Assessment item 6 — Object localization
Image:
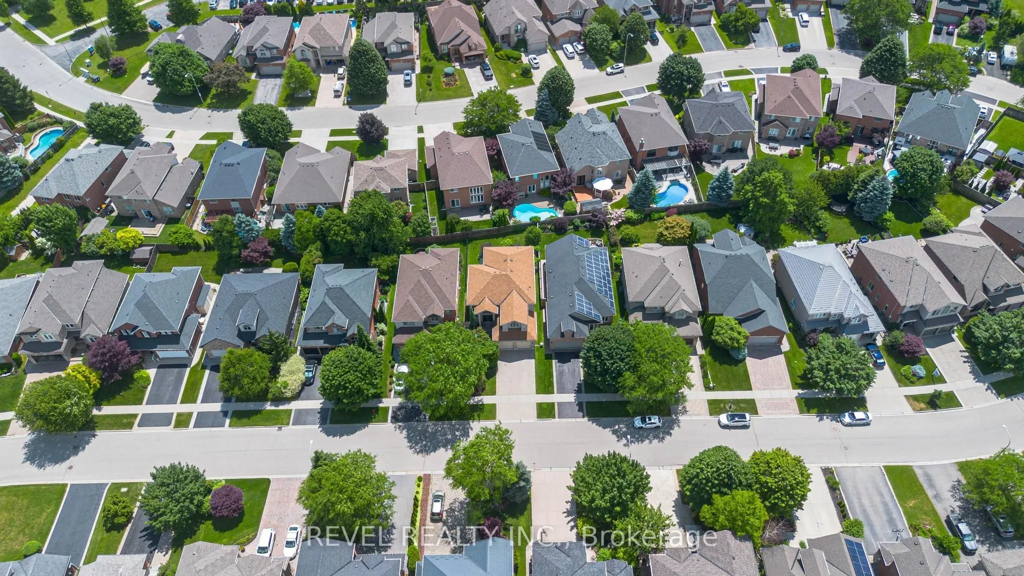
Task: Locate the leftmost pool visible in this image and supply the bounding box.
[27,127,66,159]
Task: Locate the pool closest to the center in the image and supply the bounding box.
[512,203,559,222]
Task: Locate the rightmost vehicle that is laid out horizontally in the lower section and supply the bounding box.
[838,412,874,427]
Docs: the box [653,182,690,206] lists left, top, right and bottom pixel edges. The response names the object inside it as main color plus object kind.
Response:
blue swimming pool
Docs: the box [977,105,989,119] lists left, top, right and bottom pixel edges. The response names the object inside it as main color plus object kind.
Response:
white vehicle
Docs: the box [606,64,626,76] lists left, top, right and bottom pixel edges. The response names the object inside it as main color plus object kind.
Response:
white vehicle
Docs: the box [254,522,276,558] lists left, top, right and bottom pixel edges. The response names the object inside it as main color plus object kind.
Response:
white car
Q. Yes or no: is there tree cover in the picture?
Yes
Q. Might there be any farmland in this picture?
No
